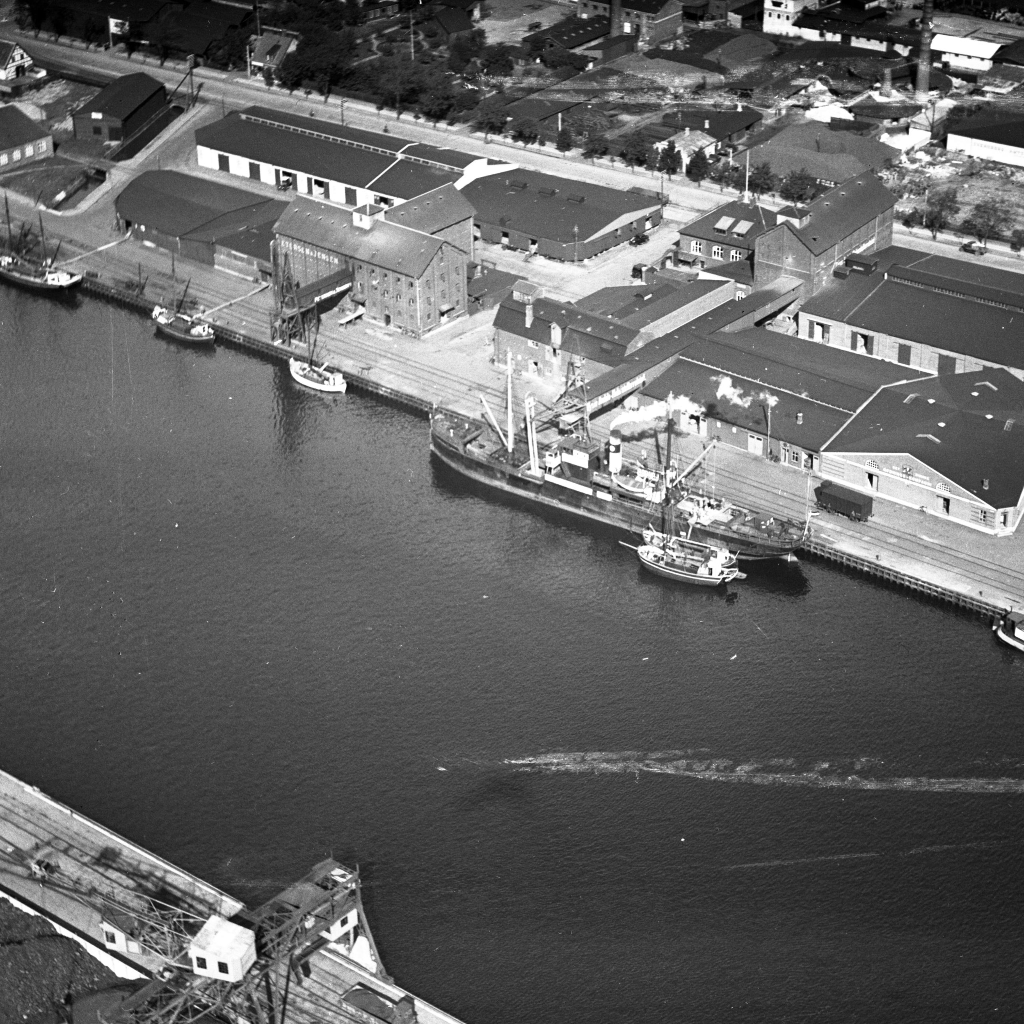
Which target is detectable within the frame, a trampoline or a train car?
train car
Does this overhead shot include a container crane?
Yes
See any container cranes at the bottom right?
No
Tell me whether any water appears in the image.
Yes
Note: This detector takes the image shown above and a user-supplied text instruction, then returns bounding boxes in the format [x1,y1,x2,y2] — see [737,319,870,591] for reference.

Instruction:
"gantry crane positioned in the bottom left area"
[31,844,399,1024]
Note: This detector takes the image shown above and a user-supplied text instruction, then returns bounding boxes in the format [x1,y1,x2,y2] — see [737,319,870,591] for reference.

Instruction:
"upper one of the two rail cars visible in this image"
[820,480,874,521]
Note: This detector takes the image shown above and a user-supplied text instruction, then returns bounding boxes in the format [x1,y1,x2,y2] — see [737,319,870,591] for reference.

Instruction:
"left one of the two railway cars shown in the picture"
[345,977,410,1024]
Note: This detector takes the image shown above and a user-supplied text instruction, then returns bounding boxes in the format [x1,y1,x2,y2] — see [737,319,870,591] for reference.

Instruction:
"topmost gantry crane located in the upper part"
[521,351,597,447]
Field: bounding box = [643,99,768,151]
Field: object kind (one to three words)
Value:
shed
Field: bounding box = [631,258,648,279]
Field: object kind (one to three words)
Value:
vehicle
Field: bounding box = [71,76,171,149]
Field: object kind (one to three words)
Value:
shed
